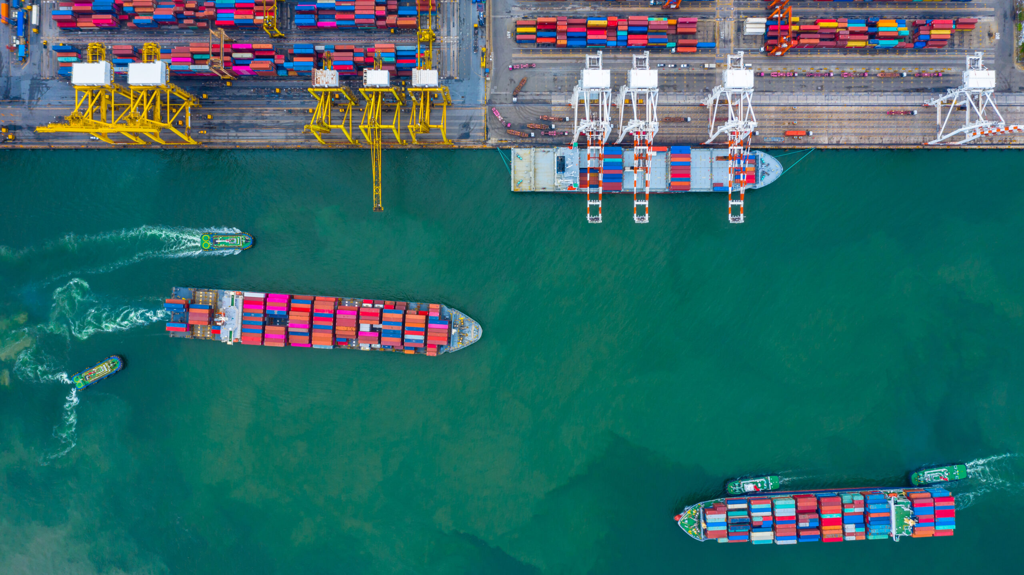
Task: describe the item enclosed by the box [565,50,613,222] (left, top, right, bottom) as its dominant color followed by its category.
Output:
white container crane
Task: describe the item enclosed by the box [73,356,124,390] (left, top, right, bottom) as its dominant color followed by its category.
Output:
green boat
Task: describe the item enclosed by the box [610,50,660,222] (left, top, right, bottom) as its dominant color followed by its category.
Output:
white container crane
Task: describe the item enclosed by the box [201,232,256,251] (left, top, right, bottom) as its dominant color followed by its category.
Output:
green boat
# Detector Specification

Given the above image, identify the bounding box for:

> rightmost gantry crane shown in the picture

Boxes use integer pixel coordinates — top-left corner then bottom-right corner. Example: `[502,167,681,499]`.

[919,50,1024,145]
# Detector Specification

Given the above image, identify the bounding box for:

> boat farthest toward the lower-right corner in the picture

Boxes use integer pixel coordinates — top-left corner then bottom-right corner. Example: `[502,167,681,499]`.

[909,462,967,486]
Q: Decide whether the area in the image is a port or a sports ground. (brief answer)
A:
port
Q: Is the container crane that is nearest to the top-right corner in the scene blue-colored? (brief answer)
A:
No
